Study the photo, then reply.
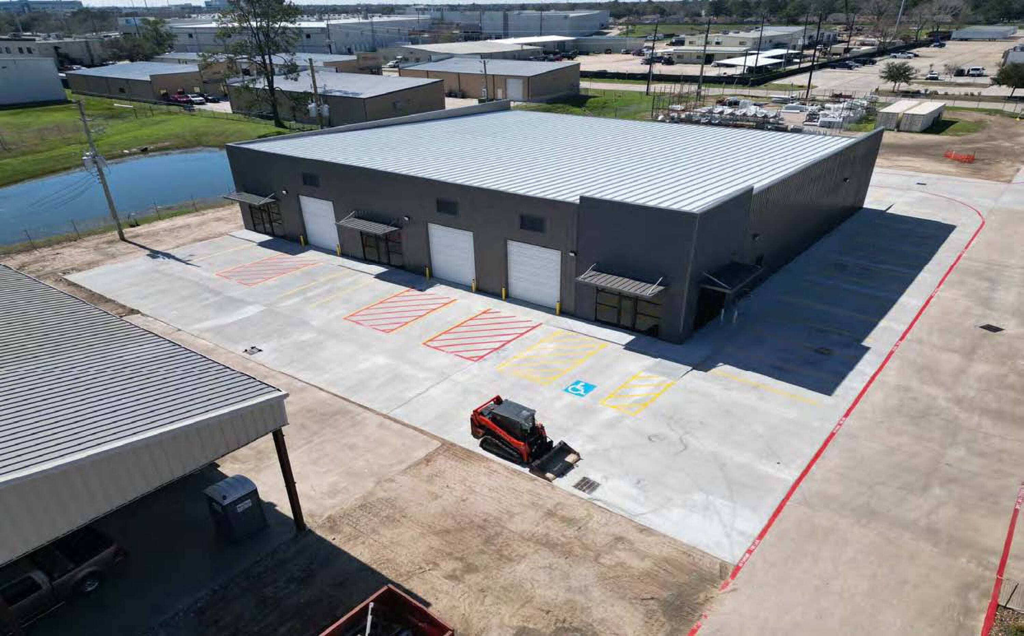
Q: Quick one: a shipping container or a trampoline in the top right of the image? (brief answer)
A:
shipping container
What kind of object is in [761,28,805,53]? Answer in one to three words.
building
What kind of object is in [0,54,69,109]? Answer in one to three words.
building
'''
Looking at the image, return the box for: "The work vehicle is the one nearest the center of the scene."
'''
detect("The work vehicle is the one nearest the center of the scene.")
[473,396,581,481]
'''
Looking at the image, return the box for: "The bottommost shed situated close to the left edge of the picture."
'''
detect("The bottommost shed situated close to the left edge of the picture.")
[0,265,306,567]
